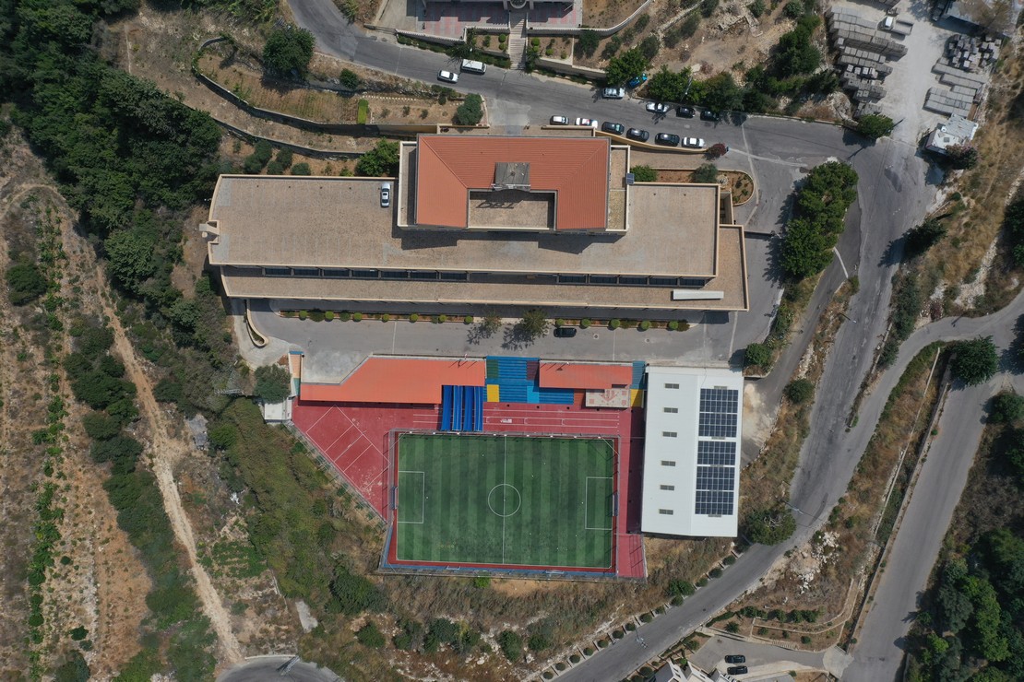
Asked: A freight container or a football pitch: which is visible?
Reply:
football pitch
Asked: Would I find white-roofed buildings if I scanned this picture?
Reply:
Yes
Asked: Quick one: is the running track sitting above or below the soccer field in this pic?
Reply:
above it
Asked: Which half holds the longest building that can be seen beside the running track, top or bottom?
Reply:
top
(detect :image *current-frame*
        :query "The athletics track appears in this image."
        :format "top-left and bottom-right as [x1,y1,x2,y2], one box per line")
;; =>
[412,407,637,430]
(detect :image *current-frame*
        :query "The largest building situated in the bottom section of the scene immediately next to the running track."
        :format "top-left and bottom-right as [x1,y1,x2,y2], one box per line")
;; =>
[639,367,744,538]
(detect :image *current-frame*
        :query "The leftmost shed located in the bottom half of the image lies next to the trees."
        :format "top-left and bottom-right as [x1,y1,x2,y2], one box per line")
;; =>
[265,401,294,420]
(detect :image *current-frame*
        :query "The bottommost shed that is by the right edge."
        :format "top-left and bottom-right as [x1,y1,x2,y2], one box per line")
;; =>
[922,114,978,155]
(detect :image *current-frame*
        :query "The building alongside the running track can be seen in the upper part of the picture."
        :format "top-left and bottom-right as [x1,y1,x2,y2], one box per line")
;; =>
[200,135,749,313]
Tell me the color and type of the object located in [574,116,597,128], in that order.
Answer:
white vehicle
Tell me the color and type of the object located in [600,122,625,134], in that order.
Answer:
black vehicle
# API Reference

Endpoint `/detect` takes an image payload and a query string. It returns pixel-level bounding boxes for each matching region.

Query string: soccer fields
[383,433,619,575]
